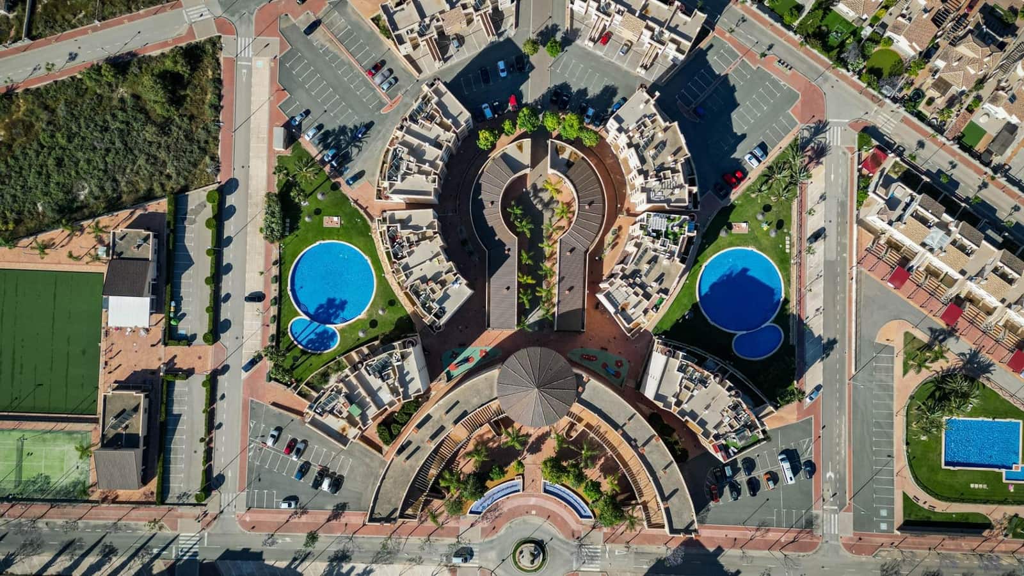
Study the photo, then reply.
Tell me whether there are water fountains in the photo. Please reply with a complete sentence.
Yes, I can see a water fountain in this picture.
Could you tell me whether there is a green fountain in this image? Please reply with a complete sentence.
No, the frame has no green fountain in it.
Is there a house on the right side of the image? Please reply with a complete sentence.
Yes, a house appears on the right side of the image.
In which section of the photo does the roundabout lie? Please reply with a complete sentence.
The roundabout is located in the bottom region of the scene.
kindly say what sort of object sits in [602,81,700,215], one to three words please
building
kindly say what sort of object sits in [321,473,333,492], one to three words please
vehicle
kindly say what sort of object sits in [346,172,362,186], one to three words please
car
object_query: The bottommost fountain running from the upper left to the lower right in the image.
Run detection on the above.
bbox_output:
[542,479,591,518]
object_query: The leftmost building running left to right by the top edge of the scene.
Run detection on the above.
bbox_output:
[379,0,514,63]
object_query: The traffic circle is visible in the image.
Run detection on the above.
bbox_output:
[490,518,570,576]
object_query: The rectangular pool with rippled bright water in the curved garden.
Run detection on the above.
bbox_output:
[943,418,1024,471]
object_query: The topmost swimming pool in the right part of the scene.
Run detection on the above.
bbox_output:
[696,246,785,333]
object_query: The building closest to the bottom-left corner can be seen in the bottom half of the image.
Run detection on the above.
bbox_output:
[93,389,153,489]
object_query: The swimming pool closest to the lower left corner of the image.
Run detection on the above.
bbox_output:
[287,317,339,354]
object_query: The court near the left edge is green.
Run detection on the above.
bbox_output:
[0,430,91,500]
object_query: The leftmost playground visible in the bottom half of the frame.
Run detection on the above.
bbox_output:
[439,346,502,382]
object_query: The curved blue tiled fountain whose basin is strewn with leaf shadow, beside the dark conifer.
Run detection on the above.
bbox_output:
[468,481,522,515]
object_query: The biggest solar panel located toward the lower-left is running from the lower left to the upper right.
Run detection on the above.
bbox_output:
[110,411,138,438]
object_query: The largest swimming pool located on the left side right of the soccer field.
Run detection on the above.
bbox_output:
[287,240,376,327]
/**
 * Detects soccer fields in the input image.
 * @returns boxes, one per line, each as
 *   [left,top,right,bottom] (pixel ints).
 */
[0,269,104,417]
